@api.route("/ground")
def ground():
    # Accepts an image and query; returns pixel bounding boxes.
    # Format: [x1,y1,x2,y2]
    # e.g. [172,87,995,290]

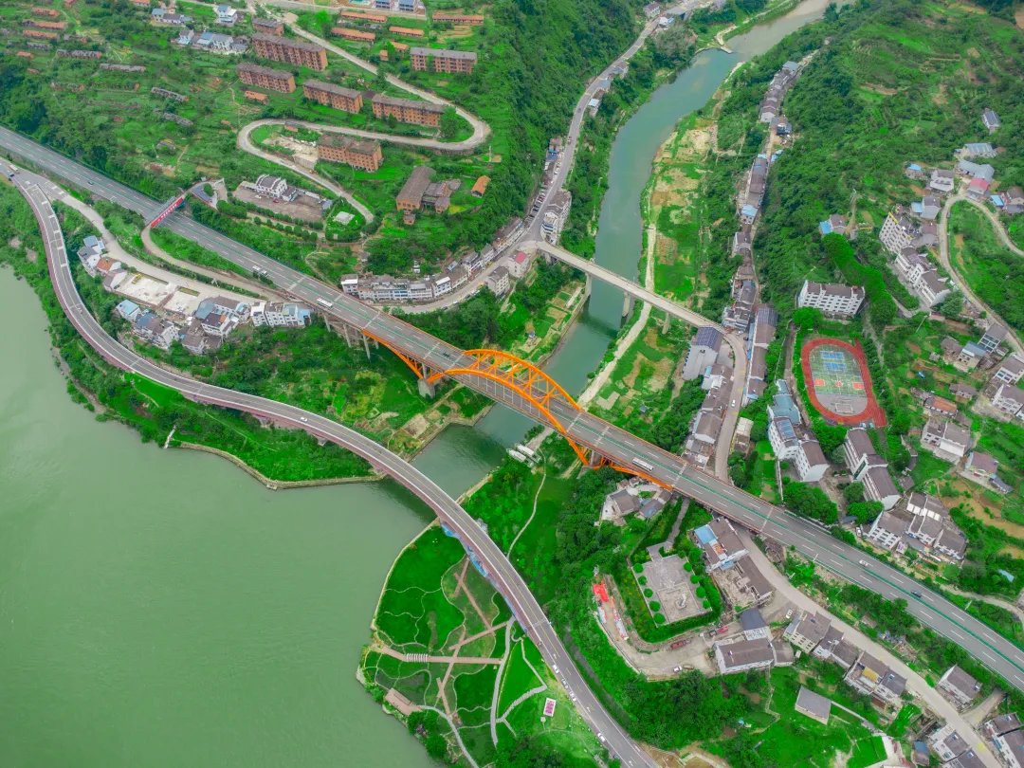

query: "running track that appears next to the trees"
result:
[801,338,887,426]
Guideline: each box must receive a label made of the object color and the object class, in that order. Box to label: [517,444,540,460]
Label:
white boat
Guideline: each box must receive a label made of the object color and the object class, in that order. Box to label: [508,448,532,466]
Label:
white boat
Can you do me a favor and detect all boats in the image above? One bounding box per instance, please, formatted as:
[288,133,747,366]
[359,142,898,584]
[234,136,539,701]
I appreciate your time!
[517,444,540,460]
[508,448,532,466]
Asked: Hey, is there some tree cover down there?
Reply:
Yes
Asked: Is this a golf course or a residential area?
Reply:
residential area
